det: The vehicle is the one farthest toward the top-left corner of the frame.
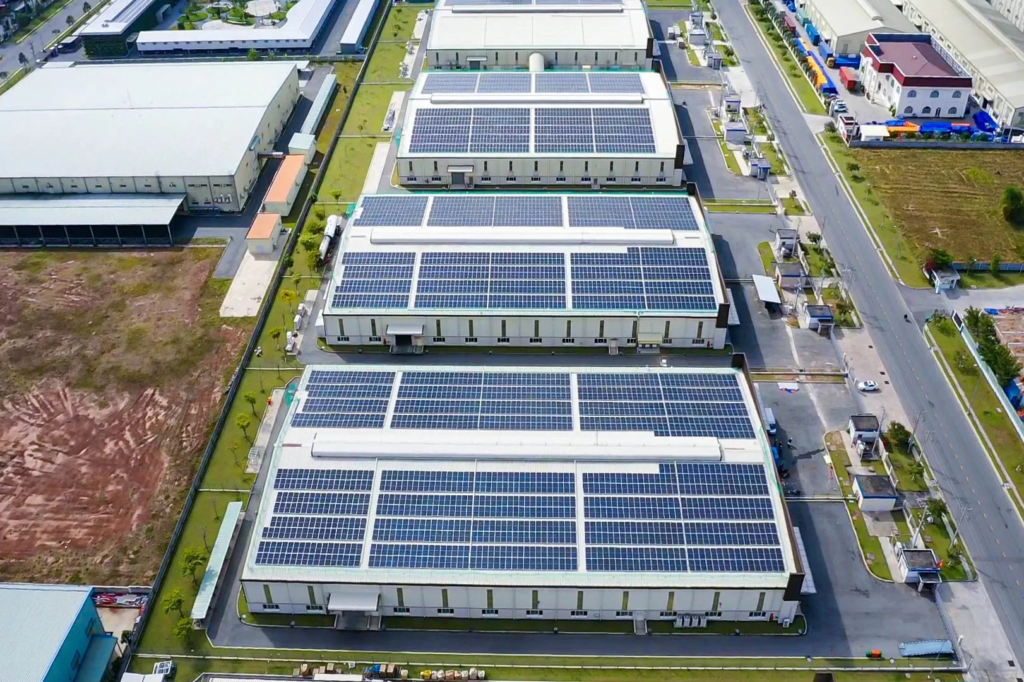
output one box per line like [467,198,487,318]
[316,217,339,269]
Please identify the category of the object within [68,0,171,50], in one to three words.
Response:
building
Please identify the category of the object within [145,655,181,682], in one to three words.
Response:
truck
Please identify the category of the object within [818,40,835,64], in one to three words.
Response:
vehicle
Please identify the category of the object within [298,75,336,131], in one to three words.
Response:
shed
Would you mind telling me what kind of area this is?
industrial area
